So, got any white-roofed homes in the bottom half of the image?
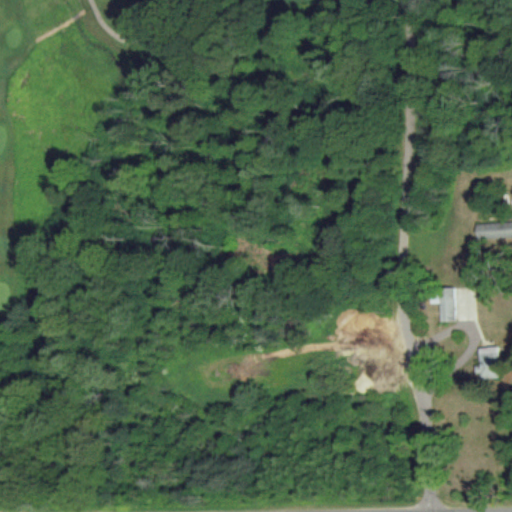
Yes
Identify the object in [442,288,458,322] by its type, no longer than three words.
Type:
house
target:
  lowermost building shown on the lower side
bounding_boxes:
[475,348,500,383]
